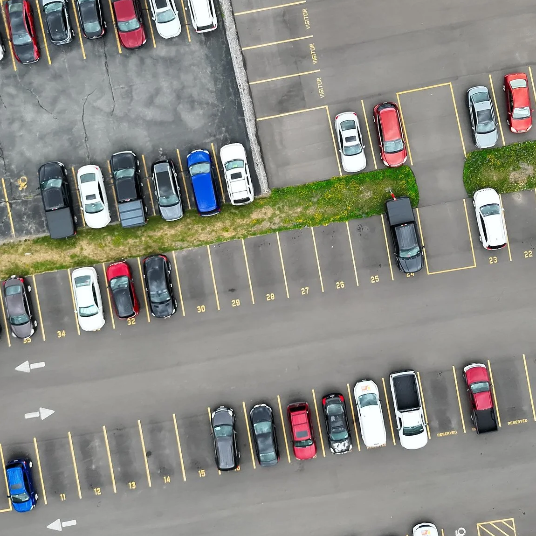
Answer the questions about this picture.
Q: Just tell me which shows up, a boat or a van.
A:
van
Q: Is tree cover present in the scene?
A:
No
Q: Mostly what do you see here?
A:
paved ground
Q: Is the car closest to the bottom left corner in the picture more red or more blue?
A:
blue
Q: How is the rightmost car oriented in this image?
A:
vertically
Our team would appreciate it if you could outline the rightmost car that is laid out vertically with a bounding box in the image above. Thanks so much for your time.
[502,72,535,134]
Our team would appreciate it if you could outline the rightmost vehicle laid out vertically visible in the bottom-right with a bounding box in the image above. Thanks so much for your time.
[463,362,502,438]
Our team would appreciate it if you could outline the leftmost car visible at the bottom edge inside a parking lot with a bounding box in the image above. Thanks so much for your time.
[3,456,35,512]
